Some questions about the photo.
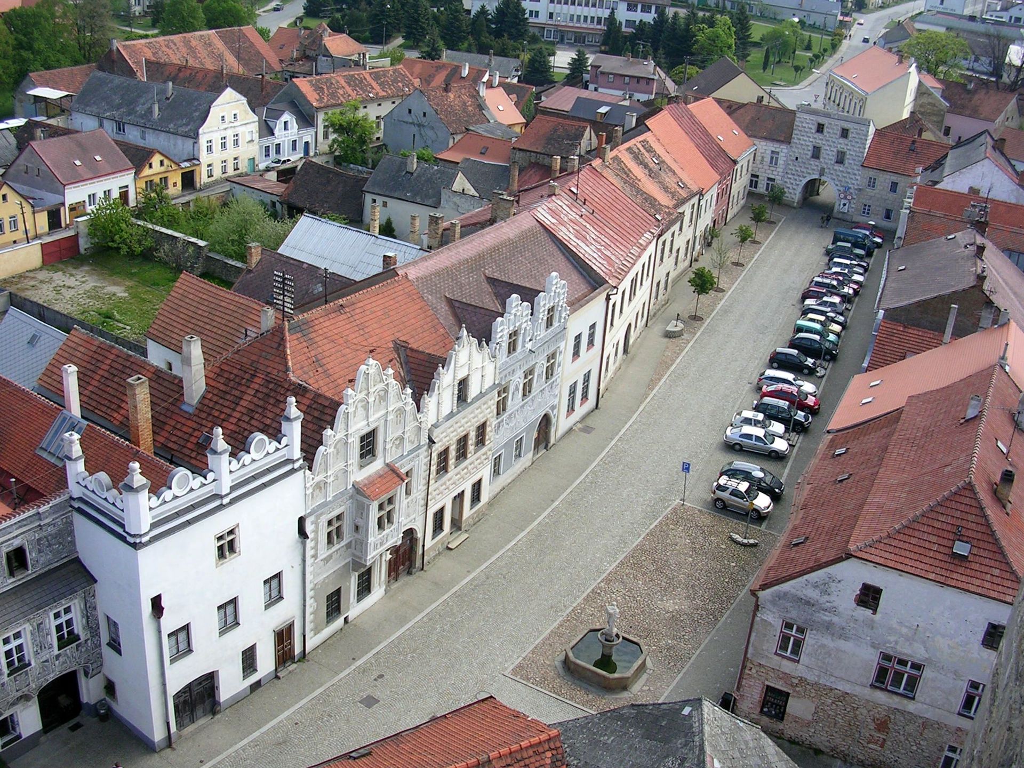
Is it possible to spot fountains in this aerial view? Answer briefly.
Yes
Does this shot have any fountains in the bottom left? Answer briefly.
No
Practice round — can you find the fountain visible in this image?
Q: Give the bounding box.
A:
[566,621,648,690]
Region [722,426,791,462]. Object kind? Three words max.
car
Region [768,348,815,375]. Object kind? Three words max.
car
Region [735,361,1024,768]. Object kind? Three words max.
house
